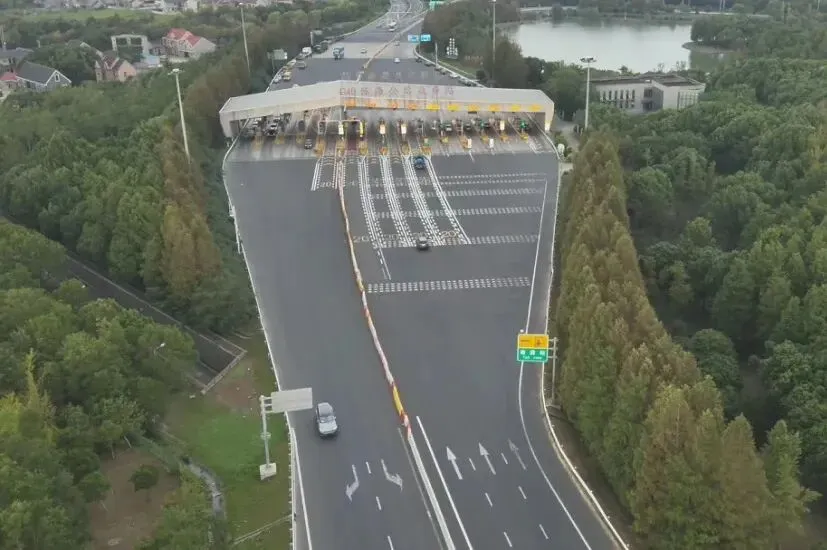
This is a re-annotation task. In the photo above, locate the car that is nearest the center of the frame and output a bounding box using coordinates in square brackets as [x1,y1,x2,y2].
[416,237,430,250]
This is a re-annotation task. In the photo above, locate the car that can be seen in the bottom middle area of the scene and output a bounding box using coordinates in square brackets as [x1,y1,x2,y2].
[316,404,338,438]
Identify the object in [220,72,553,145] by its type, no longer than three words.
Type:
toll station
